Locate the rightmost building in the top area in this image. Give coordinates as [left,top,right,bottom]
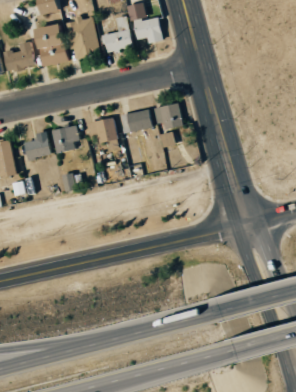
[156,103,186,132]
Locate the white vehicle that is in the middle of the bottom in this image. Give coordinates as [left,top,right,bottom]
[154,310,200,326]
